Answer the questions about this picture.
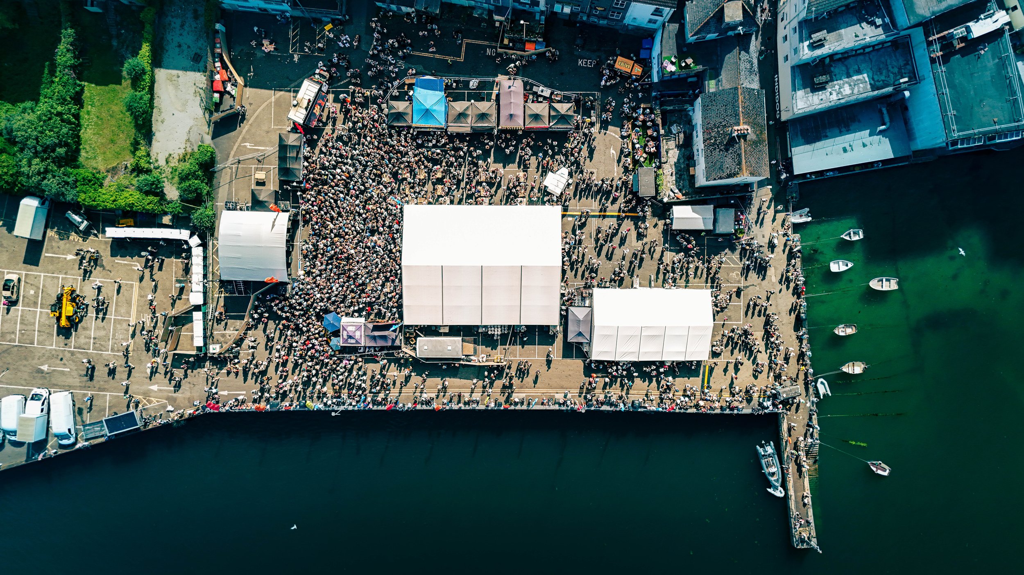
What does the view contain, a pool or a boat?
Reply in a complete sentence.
The one in the frame is a boat.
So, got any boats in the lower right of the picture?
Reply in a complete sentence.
Yes, in the lower right of the picture there is a boat.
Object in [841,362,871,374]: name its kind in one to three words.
boat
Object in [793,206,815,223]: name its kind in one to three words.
boat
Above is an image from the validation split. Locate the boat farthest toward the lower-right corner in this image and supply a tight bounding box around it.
[869,462,893,478]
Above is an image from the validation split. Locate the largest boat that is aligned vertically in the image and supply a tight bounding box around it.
[756,439,782,487]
